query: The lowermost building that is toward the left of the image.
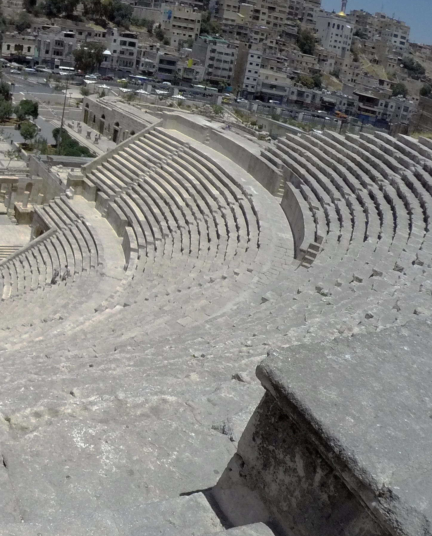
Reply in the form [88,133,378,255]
[85,98,174,144]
